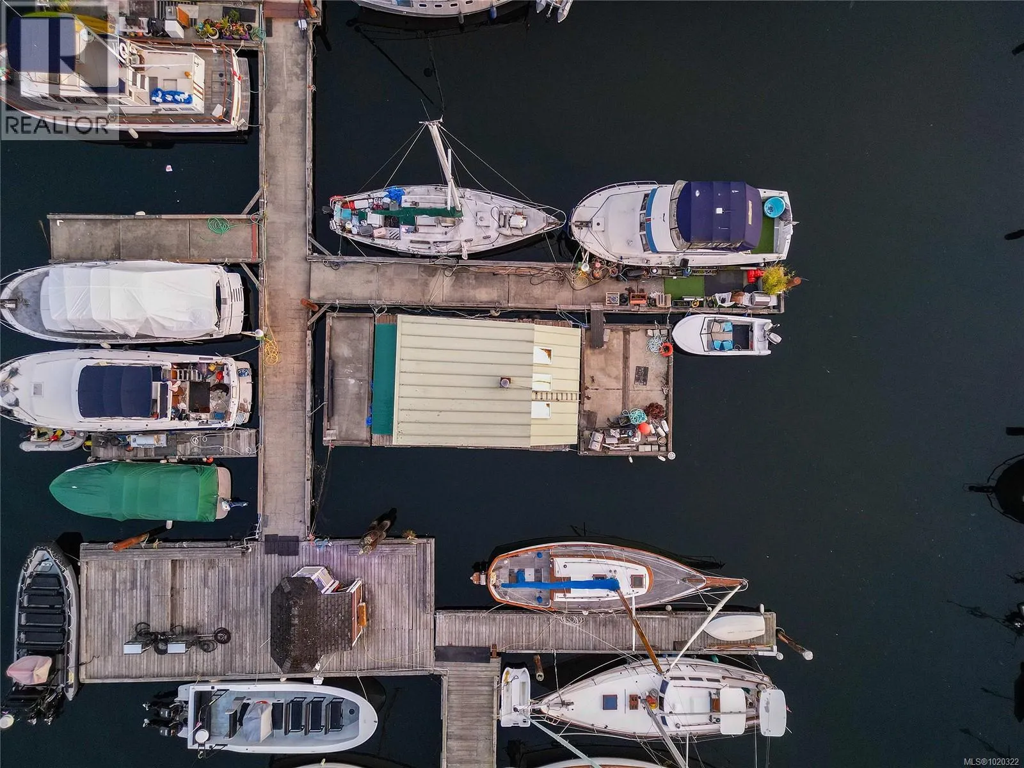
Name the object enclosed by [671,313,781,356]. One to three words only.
boat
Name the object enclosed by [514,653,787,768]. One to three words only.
boat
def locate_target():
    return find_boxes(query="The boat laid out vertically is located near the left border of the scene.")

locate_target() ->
[2,541,79,721]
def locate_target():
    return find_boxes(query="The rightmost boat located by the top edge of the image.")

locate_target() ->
[536,0,576,24]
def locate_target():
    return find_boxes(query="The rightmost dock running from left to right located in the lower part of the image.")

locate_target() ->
[436,607,776,654]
